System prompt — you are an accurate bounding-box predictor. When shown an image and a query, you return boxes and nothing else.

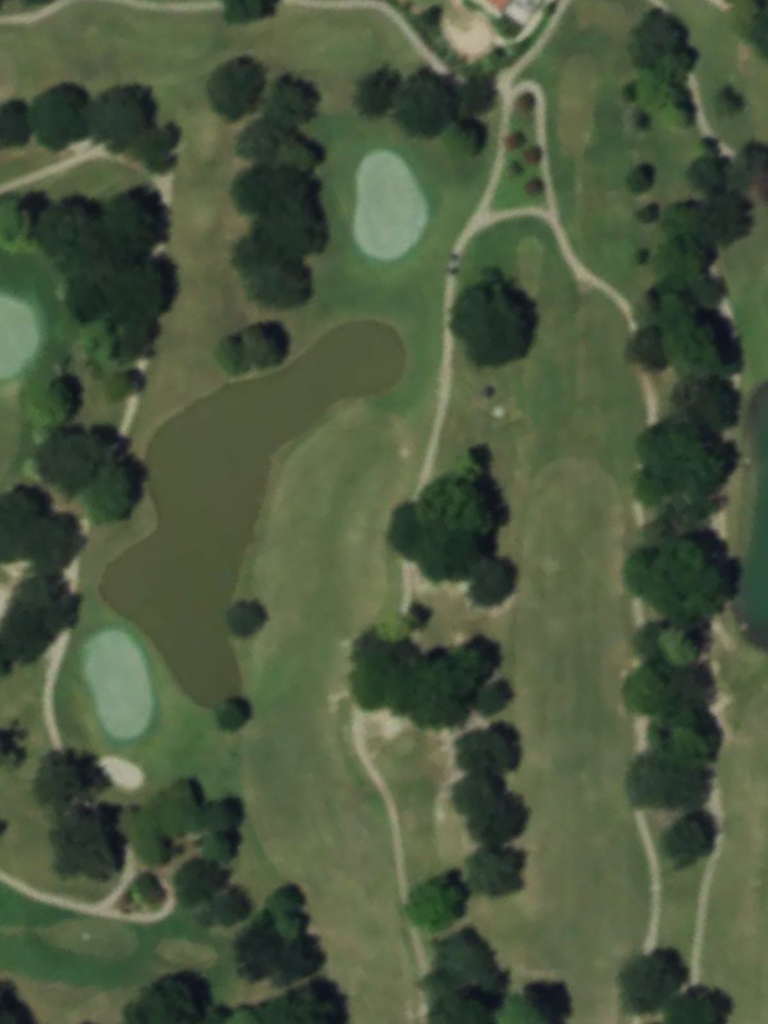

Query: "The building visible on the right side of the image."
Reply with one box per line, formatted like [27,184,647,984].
[489,0,547,32]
